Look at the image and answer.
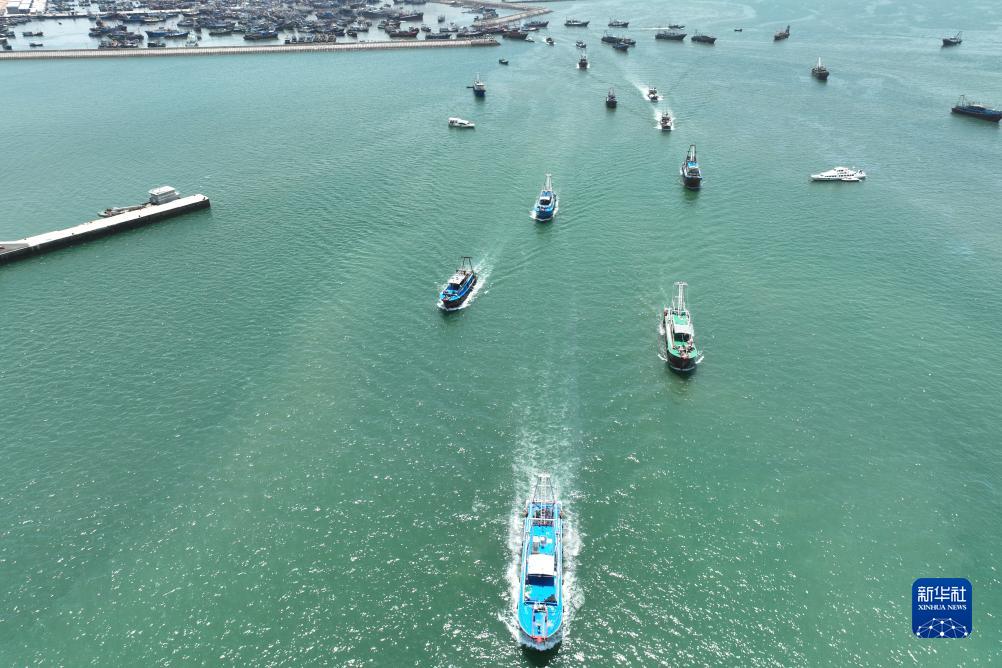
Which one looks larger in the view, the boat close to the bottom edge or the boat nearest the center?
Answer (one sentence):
The boat close to the bottom edge is larger than the boat nearest the center.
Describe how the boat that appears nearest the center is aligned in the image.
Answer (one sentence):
From this overhead view, the boat that appears nearest the center appears to run on a diagonal.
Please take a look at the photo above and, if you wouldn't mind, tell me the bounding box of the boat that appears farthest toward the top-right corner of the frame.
[945,26,967,45]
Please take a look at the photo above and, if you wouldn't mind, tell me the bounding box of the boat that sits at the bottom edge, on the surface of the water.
[518,476,565,642]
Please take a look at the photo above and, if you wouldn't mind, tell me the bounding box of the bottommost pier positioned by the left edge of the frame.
[0,195,211,267]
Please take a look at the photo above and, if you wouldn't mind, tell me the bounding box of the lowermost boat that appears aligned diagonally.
[438,254,480,310]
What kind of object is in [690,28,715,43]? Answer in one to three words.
boat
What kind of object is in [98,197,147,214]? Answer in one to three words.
ship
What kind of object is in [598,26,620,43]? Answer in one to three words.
boat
